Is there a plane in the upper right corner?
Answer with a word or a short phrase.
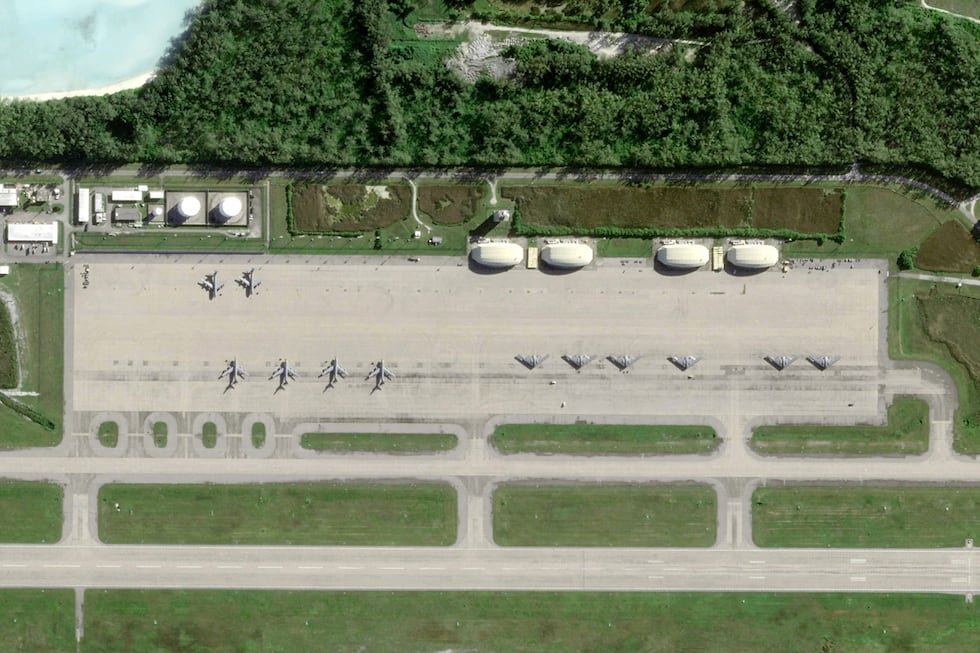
No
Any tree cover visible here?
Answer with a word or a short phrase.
Yes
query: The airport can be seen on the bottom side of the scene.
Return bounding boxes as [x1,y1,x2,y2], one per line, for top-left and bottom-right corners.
[0,236,980,653]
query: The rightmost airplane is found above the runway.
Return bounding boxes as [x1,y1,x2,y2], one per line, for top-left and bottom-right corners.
[812,354,839,368]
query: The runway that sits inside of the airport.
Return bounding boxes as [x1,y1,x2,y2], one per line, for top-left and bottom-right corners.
[0,546,980,593]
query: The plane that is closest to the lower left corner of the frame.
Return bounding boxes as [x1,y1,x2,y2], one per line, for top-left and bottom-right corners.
[221,355,250,384]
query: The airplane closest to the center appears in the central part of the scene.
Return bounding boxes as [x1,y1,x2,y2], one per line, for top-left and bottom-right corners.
[520,354,548,368]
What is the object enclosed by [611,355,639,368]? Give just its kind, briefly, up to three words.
airplane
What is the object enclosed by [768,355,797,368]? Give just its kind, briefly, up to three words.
airplane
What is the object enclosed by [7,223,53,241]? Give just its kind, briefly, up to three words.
building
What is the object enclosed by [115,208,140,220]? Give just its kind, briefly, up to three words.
building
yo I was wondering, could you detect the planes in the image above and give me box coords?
[812,354,839,368]
[520,354,548,368]
[768,355,797,368]
[221,355,250,384]
[272,357,301,385]
[567,355,595,368]
[611,355,639,368]
[368,358,396,386]
[673,355,701,368]
[322,356,350,384]
[238,267,267,296]
[201,270,230,298]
